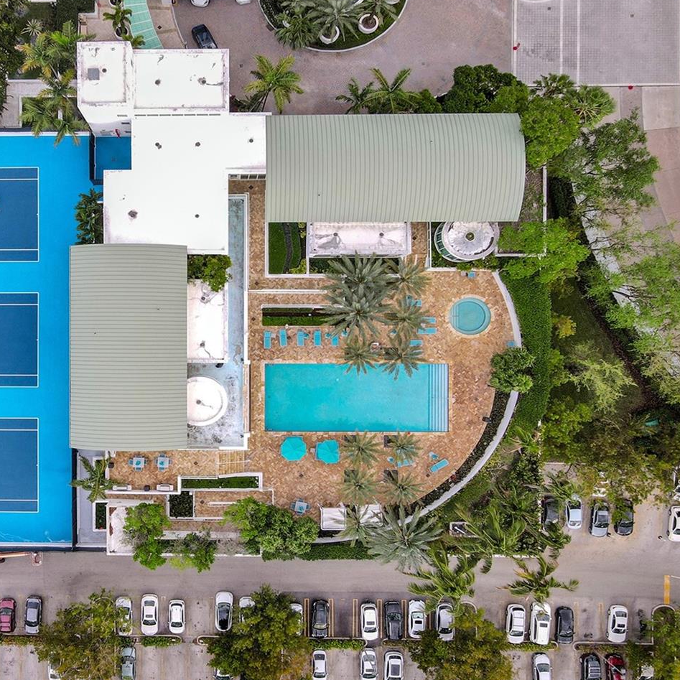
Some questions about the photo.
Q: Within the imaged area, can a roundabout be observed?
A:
No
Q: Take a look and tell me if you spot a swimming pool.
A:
Yes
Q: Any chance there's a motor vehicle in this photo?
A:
Yes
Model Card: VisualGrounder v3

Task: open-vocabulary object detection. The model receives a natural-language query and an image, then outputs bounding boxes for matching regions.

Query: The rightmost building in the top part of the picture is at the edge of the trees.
[70,42,529,451]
